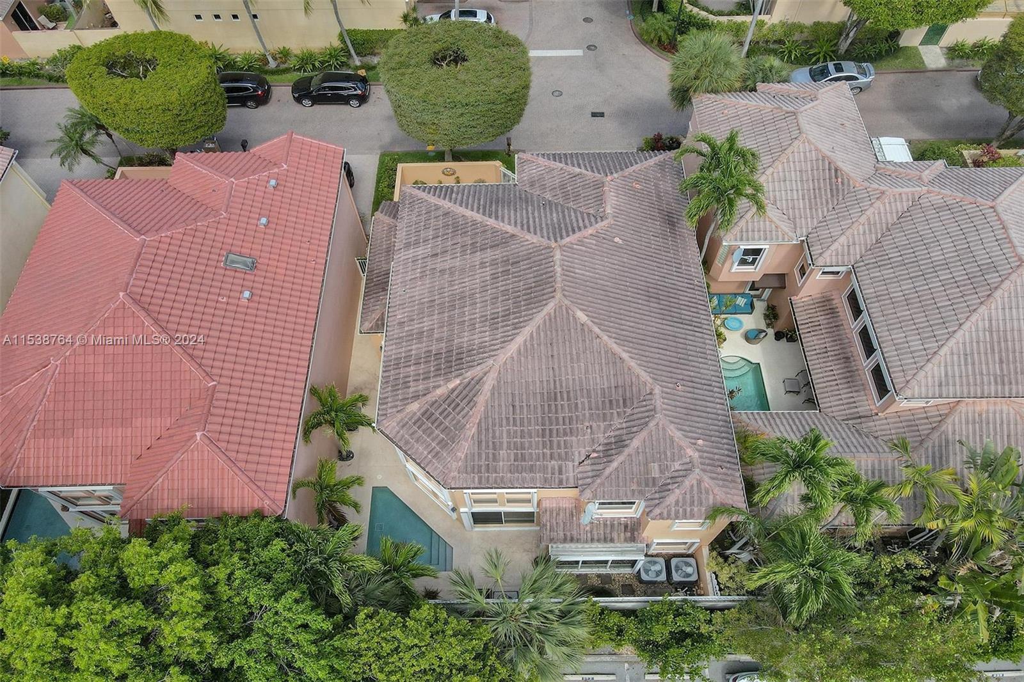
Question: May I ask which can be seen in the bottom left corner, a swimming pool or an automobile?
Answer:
swimming pool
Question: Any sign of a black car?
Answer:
Yes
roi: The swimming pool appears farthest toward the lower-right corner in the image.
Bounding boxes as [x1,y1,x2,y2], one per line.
[722,358,772,427]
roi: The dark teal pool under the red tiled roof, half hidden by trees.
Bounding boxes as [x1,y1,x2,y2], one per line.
[0,493,86,580]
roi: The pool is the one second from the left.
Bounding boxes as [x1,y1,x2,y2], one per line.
[365,486,454,575]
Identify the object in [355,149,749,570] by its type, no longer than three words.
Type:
house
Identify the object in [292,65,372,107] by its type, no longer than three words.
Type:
car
